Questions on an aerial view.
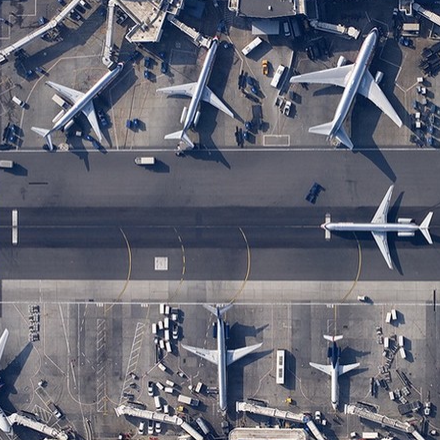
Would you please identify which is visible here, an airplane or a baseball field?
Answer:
airplane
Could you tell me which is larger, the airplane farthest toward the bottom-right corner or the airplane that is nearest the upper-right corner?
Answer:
the airplane that is nearest the upper-right corner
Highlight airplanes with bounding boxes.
[152,40,231,149]
[321,186,434,268]
[178,300,261,413]
[308,334,361,408]
[291,27,402,149]
[28,64,123,151]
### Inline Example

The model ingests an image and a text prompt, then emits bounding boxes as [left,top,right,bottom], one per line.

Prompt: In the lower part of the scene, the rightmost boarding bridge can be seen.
[343,403,427,440]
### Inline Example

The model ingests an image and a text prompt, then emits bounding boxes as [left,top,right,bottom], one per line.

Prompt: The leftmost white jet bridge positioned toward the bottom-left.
[4,413,70,440]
